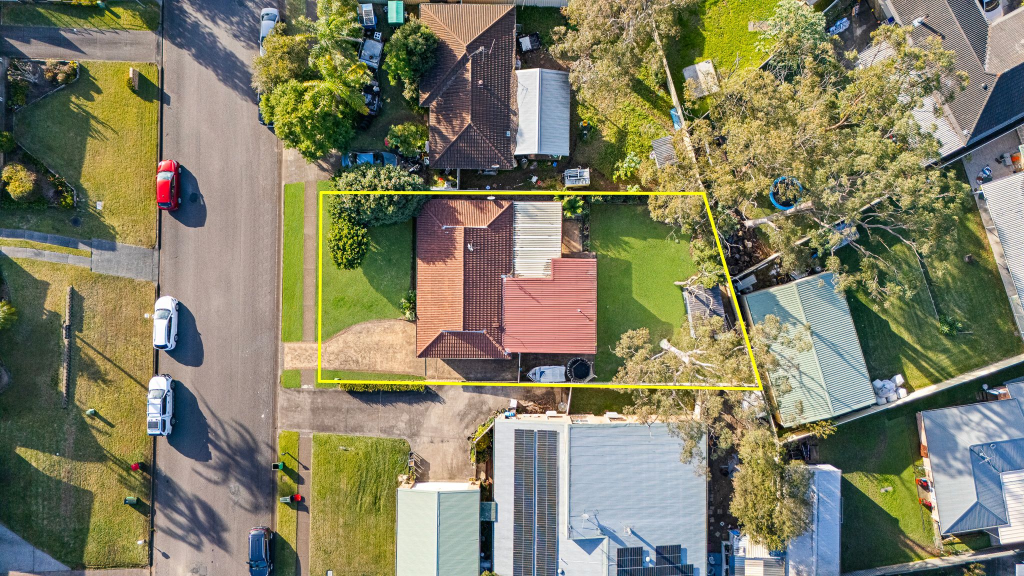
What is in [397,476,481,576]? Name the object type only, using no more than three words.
building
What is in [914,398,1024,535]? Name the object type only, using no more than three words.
house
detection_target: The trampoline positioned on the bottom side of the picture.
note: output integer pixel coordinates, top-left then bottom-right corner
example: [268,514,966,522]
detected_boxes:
[565,355,596,383]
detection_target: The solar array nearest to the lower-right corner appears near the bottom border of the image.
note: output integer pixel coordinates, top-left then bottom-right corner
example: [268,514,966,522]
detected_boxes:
[618,546,694,576]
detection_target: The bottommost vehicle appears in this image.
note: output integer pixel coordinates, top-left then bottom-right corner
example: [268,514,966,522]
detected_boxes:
[243,529,274,576]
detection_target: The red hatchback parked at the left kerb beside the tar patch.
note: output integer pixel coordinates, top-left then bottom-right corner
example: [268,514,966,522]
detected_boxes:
[153,159,182,209]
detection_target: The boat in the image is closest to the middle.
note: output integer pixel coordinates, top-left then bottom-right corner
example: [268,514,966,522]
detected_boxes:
[529,364,567,384]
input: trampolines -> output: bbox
[770,178,801,208]
[565,355,596,383]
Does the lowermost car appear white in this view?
No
